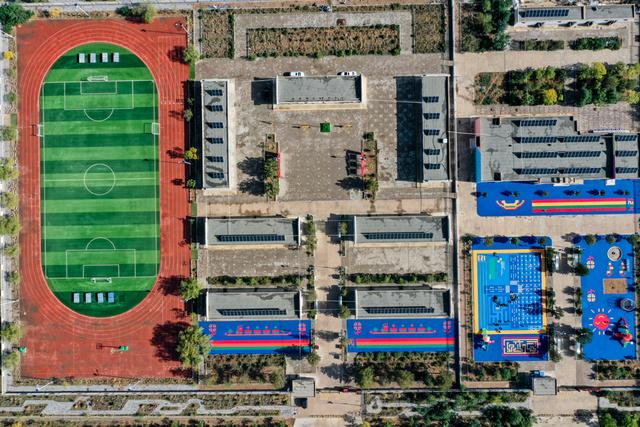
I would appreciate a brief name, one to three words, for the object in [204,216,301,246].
building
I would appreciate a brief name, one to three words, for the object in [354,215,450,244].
building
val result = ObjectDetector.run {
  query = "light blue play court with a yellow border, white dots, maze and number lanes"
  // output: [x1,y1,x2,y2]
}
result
[472,236,552,361]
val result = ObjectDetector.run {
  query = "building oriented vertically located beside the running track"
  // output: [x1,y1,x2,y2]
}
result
[201,79,232,189]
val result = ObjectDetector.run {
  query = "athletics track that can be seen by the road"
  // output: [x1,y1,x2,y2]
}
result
[16,17,192,379]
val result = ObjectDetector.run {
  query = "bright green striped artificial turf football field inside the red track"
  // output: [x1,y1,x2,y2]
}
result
[39,41,160,318]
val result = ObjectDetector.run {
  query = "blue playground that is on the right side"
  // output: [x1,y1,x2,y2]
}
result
[581,234,637,361]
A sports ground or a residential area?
sports ground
